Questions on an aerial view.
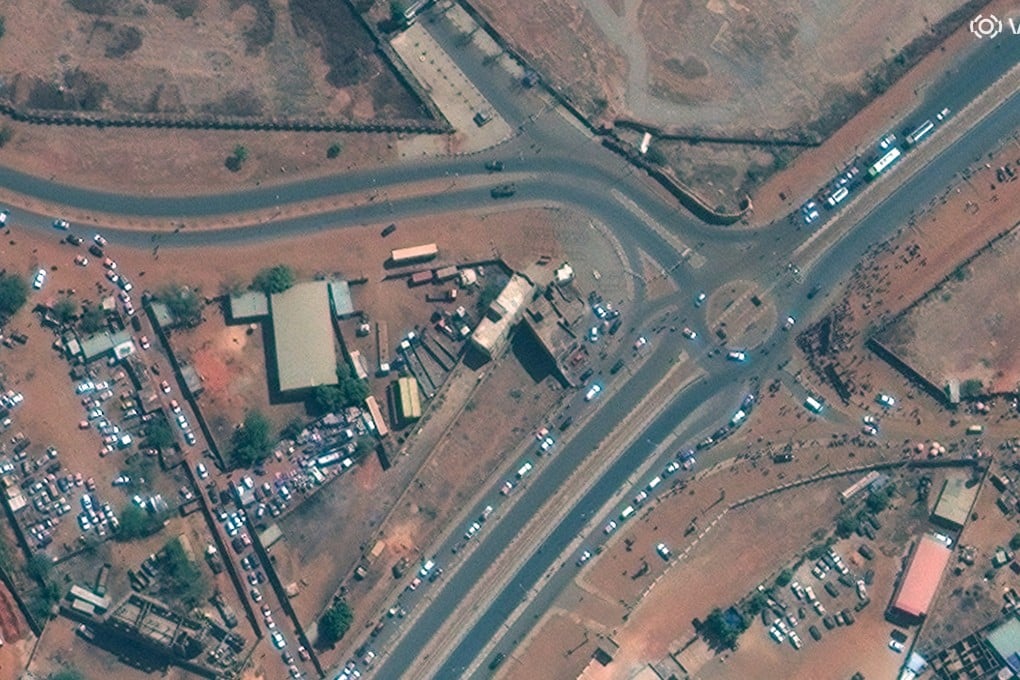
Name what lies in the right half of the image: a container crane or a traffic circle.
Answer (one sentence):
It is a traffic circle that can be seen in the right half of the image.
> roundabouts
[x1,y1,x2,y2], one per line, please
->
[707,281,777,349]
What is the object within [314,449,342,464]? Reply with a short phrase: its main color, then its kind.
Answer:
white vehicle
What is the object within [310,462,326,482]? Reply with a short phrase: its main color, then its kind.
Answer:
white vehicle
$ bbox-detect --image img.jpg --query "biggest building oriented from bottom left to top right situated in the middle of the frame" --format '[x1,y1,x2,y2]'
[472,273,538,357]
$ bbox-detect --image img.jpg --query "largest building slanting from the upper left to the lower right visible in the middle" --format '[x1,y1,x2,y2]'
[523,295,581,369]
